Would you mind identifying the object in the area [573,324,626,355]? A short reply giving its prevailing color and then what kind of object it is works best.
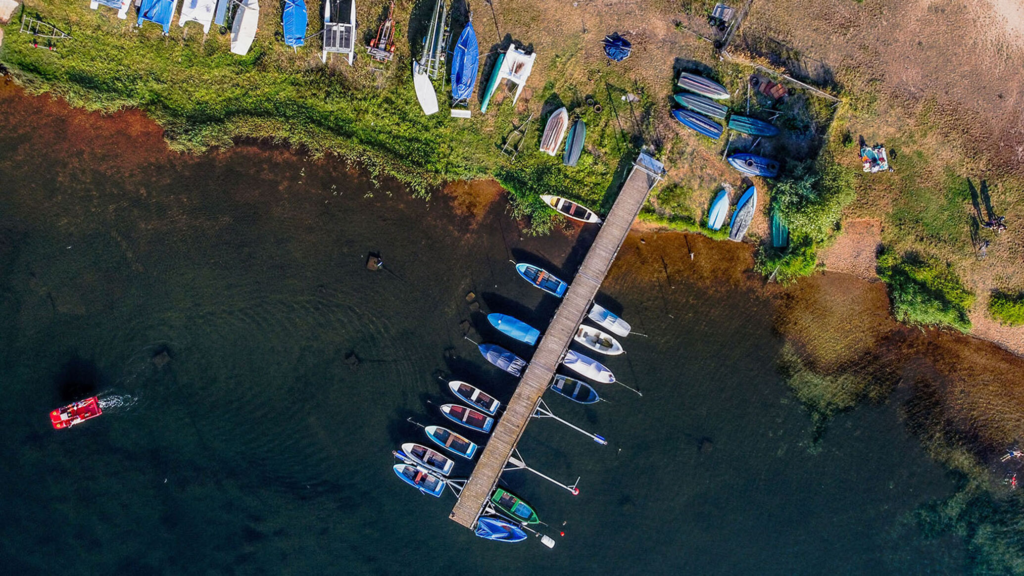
white boat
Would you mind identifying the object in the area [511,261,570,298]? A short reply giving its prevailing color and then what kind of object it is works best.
blue boat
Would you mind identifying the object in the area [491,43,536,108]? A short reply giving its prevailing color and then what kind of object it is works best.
white boat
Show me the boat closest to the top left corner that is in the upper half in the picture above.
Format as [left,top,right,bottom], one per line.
[92,0,132,22]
